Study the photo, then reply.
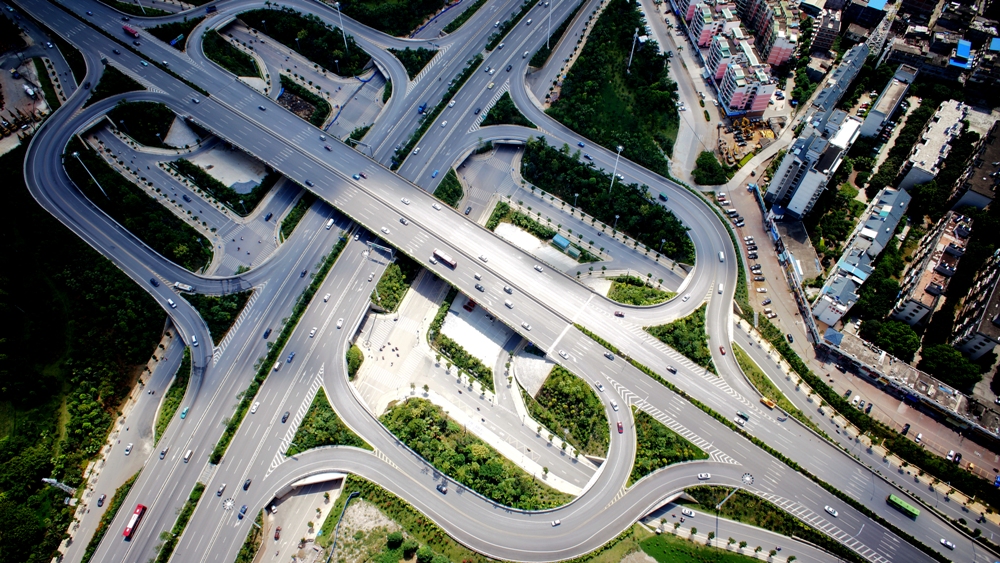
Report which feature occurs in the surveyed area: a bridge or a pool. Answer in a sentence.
There is a bridge in the scene.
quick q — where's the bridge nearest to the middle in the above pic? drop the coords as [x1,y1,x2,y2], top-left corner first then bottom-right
[208,76,594,323]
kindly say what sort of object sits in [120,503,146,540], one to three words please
bus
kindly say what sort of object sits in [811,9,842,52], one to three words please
building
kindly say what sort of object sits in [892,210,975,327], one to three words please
building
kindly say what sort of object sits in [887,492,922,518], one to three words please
bus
